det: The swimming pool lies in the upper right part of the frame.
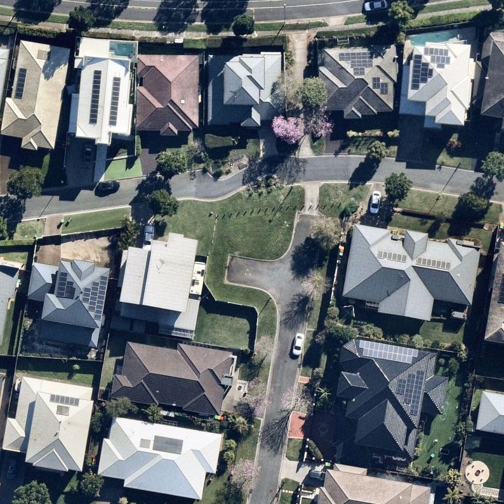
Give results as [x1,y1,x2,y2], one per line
[407,24,471,46]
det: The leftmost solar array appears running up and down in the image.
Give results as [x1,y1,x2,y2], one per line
[14,68,29,99]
